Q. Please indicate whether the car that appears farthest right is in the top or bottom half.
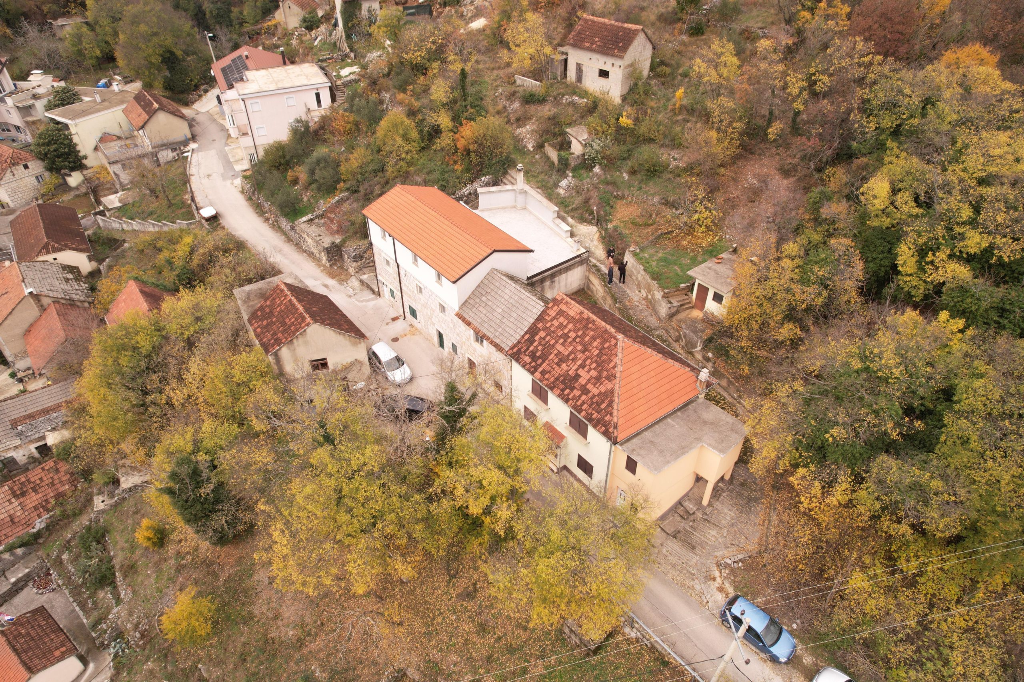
bottom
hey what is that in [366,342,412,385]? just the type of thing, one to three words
car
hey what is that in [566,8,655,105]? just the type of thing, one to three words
building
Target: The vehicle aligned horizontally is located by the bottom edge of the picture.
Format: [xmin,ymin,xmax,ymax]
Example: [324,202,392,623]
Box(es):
[799,661,850,682]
